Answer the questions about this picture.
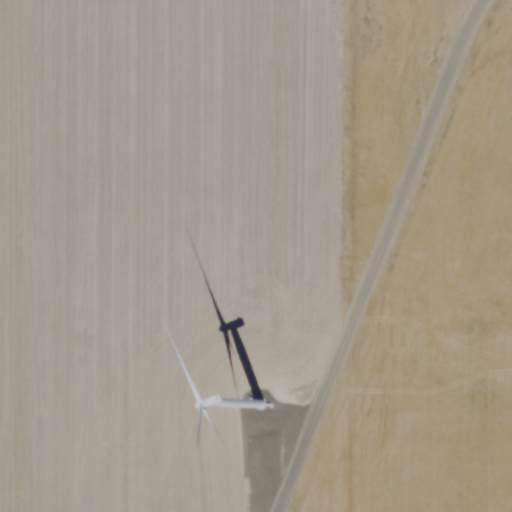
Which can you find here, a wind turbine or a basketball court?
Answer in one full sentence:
The one in the frame is a wind turbine.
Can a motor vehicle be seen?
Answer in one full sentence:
No, this view has no motor vehicle in it.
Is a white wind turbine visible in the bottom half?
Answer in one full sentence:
Yes, the scene does show a white wind turbine in the bottom half.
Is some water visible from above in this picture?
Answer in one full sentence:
No, the picture contains no water.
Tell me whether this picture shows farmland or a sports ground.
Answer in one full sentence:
It's farmland.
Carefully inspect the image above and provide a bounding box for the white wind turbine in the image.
[162,314,268,453]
